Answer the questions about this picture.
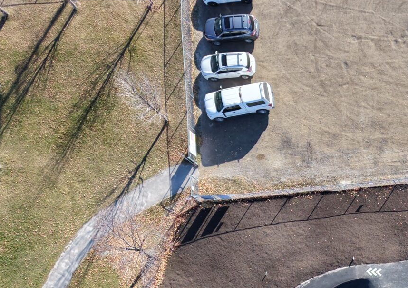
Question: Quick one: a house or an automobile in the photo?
automobile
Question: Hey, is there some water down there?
No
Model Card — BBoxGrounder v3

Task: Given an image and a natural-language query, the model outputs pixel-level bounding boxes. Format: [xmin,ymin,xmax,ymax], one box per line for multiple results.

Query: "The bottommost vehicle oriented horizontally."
[202,80,275,121]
